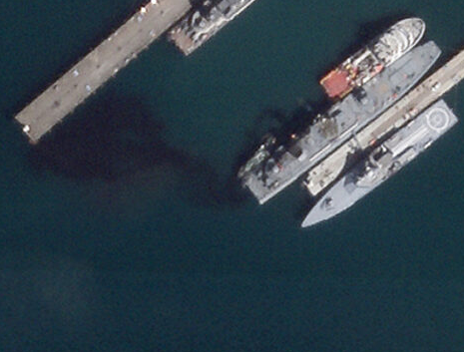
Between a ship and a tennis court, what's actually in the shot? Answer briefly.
ship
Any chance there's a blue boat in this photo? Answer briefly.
No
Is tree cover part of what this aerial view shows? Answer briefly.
No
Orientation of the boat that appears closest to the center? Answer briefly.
at an angle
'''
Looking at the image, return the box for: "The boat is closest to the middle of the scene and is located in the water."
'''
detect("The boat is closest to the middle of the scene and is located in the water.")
[238,147,270,176]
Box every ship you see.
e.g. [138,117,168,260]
[169,0,255,56]
[302,99,458,227]
[320,18,424,98]
[240,41,441,204]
